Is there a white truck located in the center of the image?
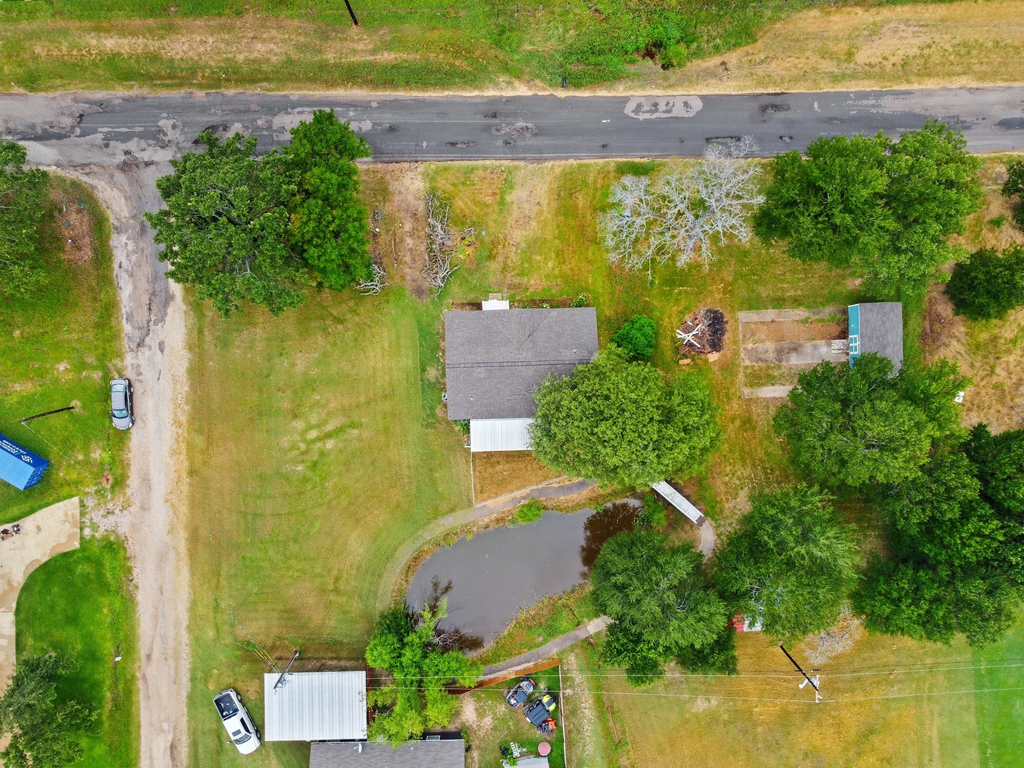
No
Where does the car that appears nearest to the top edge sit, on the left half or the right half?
left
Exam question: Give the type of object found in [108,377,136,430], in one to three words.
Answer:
car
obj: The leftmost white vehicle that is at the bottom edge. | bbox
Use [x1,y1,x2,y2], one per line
[212,691,261,757]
